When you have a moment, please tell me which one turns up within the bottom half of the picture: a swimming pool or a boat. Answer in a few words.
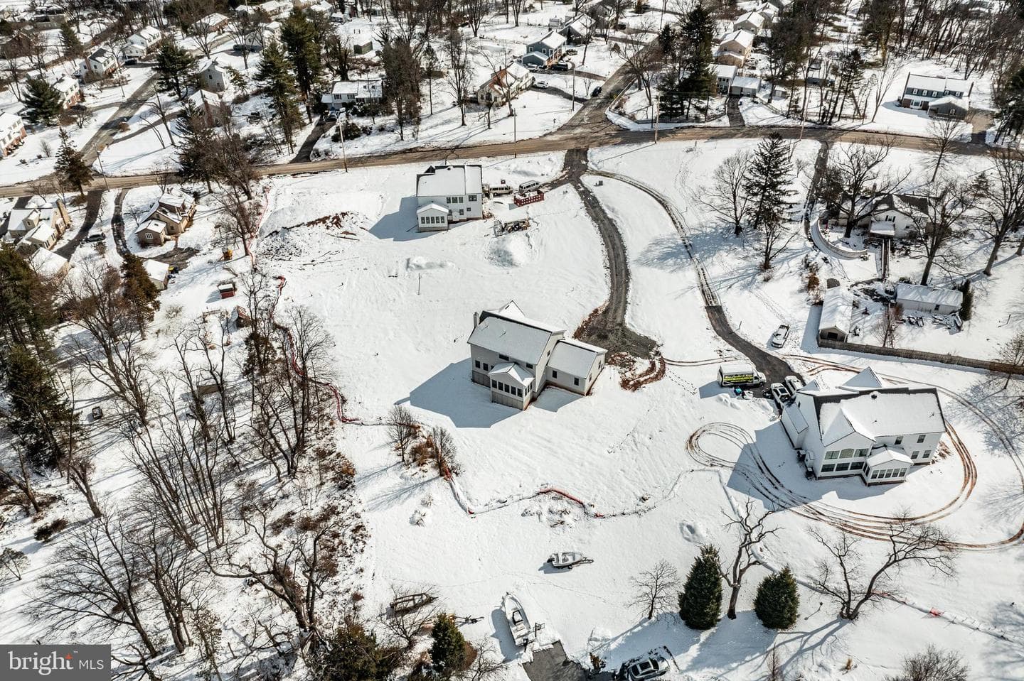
boat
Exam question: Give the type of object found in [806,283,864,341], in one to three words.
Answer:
building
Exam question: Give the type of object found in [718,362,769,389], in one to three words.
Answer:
truck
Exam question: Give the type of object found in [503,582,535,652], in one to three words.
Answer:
boat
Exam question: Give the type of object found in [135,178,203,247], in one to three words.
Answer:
house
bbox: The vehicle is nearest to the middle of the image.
[500,217,530,234]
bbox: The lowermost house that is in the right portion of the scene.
[775,364,951,490]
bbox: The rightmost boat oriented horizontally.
[542,547,594,569]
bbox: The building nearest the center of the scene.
[467,299,618,410]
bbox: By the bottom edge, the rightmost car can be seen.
[623,650,674,681]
